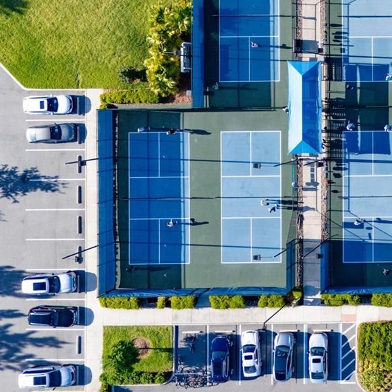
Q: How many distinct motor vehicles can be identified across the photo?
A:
nine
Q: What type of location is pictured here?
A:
sports ground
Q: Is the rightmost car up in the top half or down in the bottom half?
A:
bottom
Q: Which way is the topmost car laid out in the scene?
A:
from left to right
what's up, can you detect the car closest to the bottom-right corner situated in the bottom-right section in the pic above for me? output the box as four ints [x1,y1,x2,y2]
[305,332,329,384]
